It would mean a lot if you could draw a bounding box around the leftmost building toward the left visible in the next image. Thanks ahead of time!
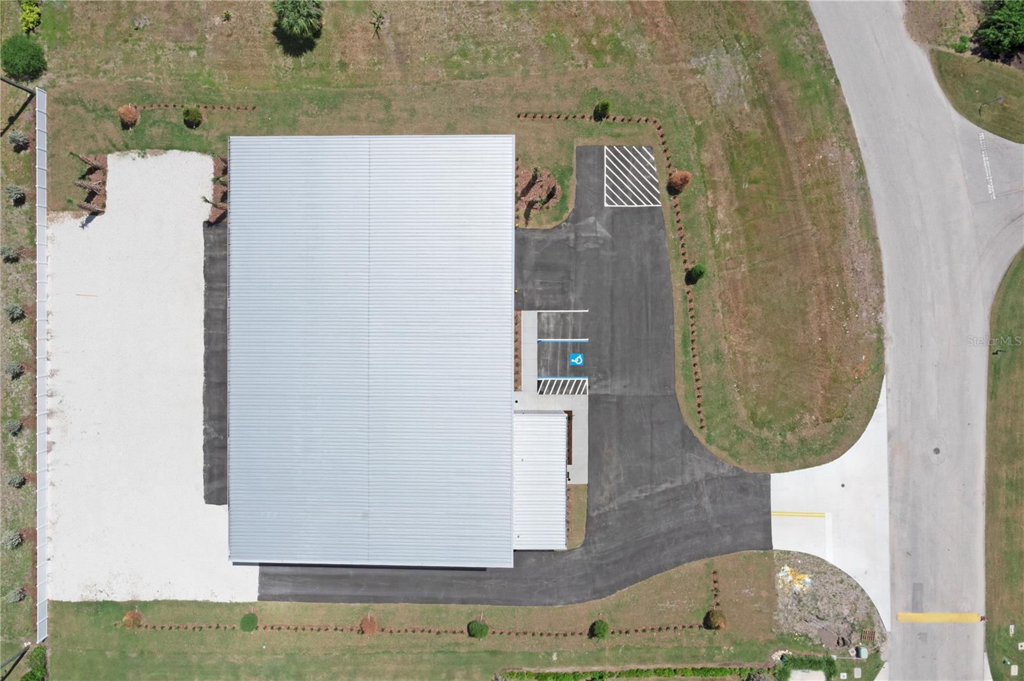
[226,134,515,567]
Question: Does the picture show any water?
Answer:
No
